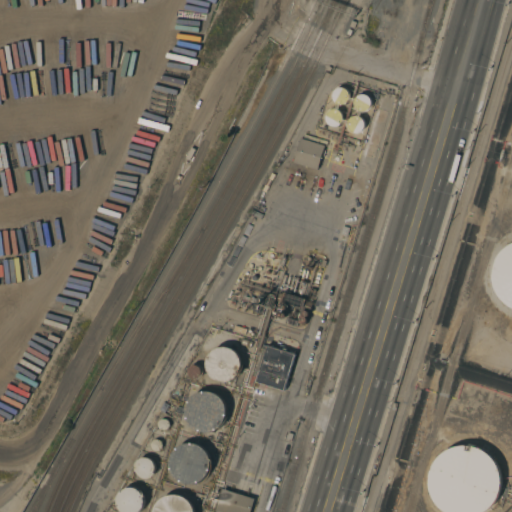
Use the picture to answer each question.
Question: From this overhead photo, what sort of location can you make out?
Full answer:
The area seen from above is an industrial area.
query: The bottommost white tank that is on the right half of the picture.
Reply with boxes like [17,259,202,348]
[427,444,502,512]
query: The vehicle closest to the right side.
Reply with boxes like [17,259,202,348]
[448,137,466,184]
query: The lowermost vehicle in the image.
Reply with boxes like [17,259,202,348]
[266,475,280,512]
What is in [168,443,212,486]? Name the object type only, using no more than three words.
storage tank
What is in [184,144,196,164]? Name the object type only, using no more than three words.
vehicle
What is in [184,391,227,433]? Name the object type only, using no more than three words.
storage tank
